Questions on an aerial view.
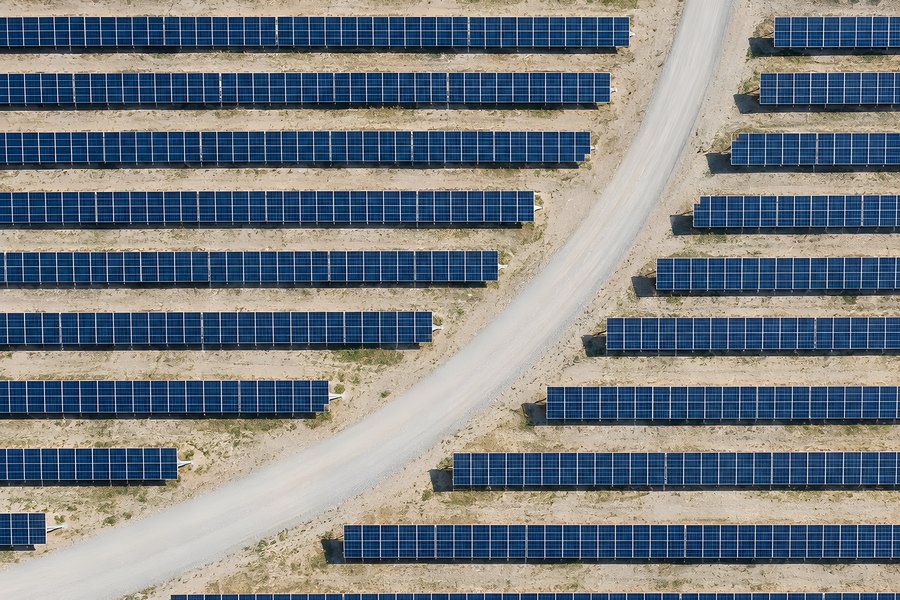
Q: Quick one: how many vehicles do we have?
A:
0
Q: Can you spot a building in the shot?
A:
No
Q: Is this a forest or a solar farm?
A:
solar farm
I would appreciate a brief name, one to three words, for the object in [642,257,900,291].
solar array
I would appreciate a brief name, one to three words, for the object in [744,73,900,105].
solar array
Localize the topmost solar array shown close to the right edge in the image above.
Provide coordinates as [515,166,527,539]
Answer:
[758,17,900,49]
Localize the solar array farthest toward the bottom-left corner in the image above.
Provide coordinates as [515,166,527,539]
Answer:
[0,512,70,546]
